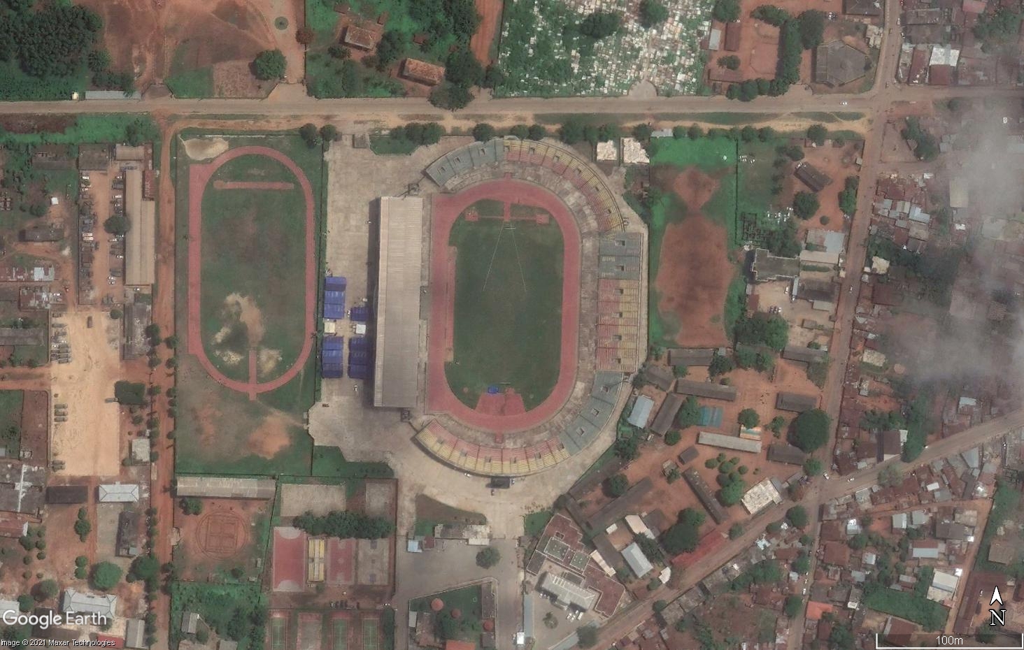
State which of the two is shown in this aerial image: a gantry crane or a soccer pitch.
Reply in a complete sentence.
Looking from above, you can make out a soccer pitch.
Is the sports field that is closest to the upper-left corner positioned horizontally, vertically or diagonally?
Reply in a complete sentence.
The sports field that is closest to the upper-left corner has been laid out vertically relative to the frame.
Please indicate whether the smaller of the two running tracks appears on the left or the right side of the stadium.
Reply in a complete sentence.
Looking at the photo, the smaller of the two running tracks lies to the left of the stadium.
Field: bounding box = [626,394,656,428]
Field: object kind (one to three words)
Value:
building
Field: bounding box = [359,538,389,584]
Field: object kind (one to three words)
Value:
basketball court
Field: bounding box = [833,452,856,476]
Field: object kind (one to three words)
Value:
house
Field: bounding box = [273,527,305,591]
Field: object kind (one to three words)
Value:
sports court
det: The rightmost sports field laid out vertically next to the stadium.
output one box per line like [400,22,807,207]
[650,135,734,347]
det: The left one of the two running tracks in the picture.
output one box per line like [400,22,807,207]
[188,146,316,401]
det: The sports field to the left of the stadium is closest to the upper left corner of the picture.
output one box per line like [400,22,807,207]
[201,154,306,383]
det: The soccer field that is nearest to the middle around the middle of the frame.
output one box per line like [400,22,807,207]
[444,199,564,411]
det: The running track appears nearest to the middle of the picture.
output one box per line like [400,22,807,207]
[426,174,581,443]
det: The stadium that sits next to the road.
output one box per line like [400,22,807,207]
[308,134,649,540]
